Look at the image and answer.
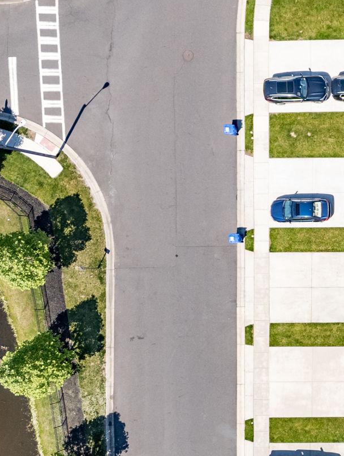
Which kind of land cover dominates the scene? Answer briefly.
paved ground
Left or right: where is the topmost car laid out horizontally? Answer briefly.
right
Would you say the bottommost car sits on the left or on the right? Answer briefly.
right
